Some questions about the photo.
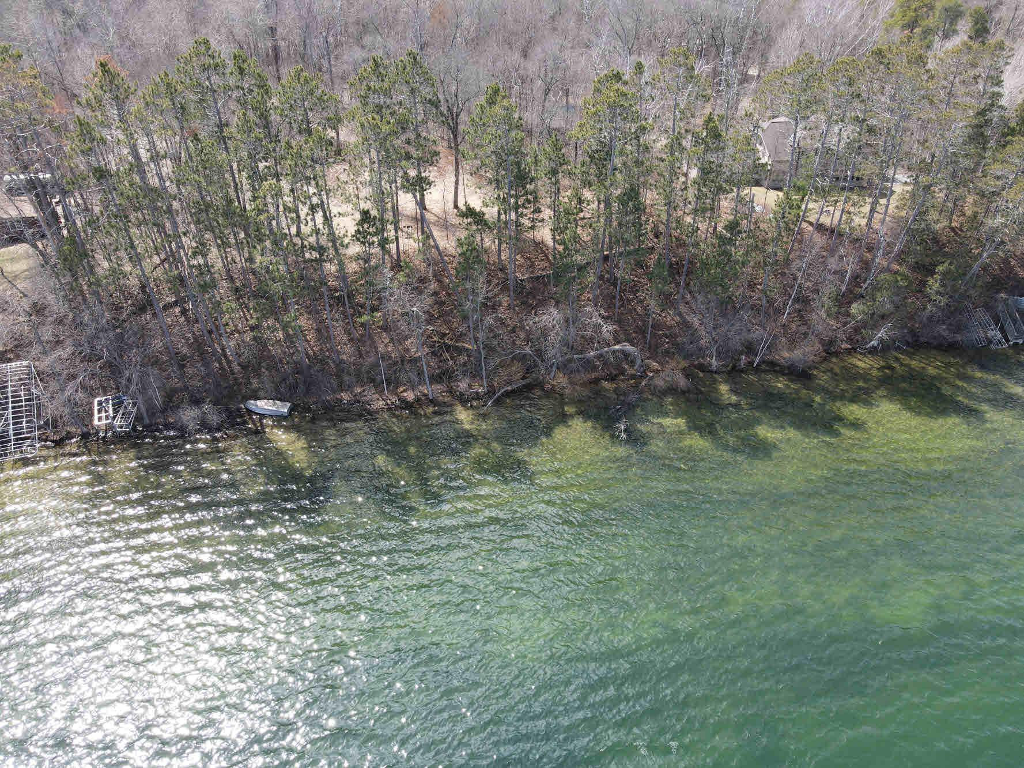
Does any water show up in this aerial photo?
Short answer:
Yes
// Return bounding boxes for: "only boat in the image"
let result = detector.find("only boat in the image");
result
[248,399,295,416]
